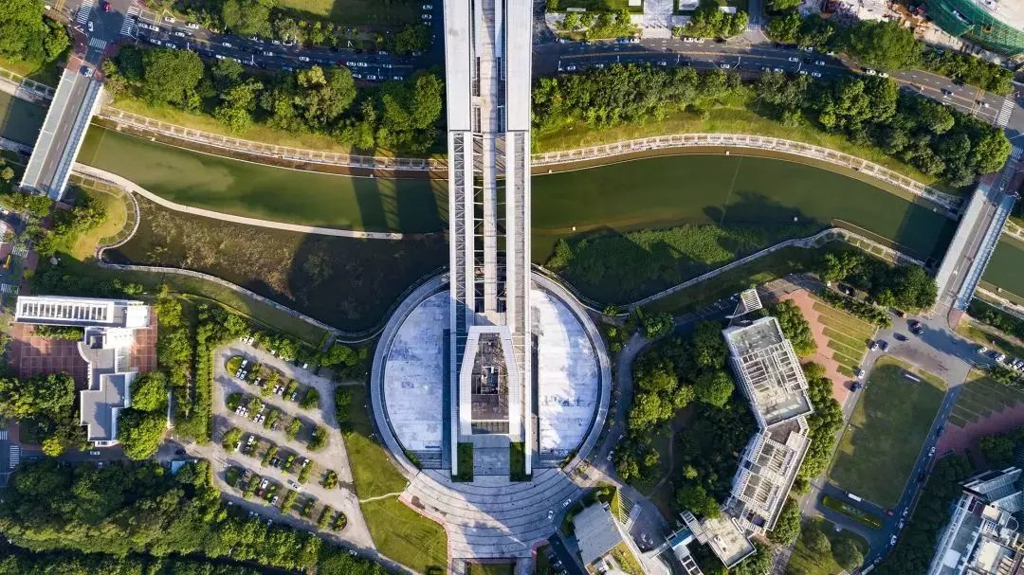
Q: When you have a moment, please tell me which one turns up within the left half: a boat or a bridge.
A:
bridge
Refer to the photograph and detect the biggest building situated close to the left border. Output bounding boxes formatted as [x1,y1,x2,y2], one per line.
[15,296,163,446]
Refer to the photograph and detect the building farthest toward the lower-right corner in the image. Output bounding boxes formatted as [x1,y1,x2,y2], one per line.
[901,468,1024,575]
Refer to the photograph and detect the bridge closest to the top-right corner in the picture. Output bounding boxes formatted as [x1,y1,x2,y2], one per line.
[932,180,1019,305]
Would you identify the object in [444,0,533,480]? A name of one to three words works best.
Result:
building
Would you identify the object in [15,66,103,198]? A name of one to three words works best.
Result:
bridge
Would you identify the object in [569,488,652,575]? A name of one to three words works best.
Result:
building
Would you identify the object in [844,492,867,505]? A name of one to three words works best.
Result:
vehicle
